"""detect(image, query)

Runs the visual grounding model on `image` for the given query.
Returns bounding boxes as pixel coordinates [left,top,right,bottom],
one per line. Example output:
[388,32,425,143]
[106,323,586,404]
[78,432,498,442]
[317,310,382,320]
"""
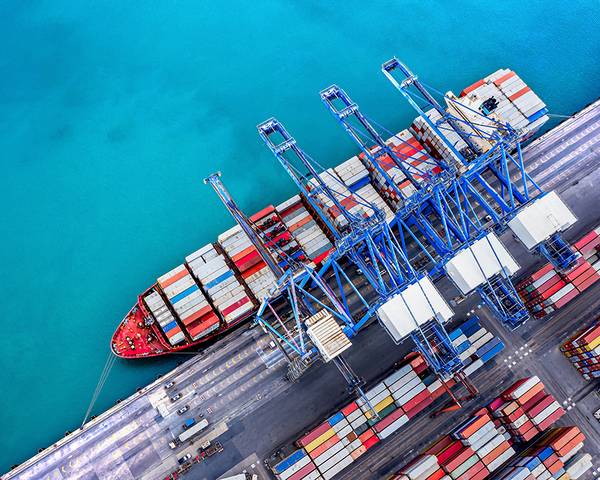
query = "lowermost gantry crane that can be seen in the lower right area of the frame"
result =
[401,348,482,425]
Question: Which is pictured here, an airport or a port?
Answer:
port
